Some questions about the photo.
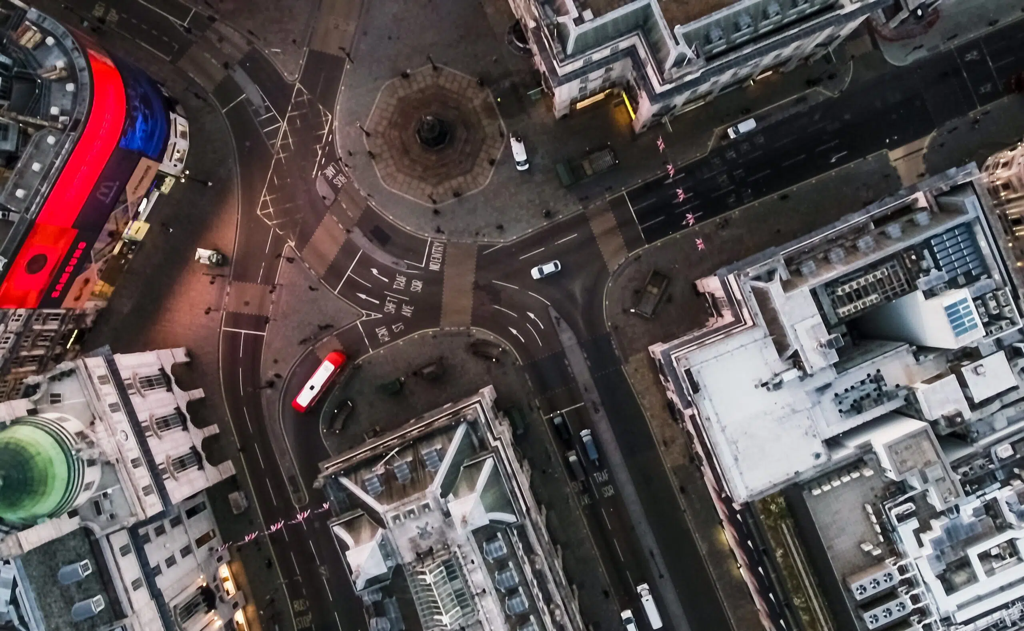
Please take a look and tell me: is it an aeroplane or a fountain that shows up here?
fountain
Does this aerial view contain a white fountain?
No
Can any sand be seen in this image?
No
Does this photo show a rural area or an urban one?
urban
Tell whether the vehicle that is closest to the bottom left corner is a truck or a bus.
bus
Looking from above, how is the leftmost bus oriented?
diagonally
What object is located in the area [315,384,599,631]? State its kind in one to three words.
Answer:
building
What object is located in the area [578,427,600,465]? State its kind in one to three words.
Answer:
truck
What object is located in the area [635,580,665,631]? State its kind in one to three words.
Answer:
van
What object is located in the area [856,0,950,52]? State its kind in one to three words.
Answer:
building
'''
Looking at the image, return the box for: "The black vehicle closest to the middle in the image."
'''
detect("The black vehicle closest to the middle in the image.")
[549,409,571,443]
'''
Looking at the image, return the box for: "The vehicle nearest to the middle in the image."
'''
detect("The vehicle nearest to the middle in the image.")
[529,259,563,280]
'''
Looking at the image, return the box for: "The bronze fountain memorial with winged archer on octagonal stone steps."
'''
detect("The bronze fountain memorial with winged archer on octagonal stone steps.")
[359,59,508,208]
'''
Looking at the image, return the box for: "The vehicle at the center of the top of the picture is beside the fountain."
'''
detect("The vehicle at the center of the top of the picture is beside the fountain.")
[510,135,530,173]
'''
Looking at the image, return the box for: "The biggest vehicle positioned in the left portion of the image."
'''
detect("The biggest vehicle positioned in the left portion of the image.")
[291,346,355,414]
